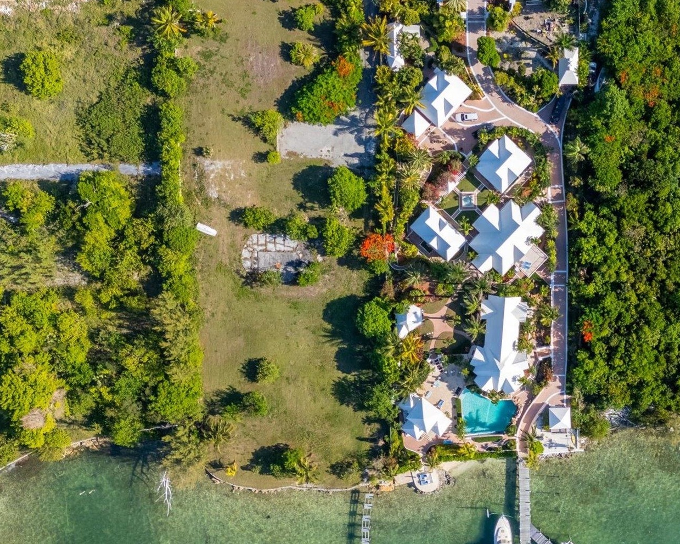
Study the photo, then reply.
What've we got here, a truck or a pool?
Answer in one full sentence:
The one in the frame is a pool.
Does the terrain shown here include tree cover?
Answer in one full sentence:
Yes, tree cover shows up in the scene.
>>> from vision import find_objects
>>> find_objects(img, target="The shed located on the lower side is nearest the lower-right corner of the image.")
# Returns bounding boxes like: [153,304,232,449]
[549,406,571,429]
